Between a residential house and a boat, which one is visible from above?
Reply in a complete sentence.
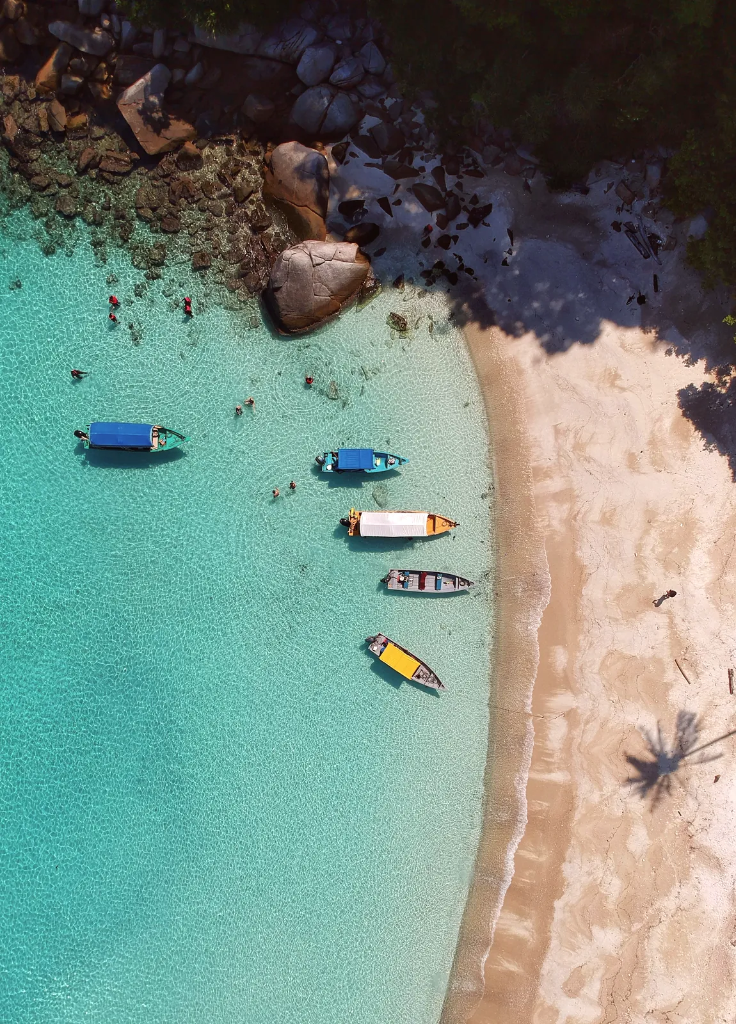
There is a boat in the scene.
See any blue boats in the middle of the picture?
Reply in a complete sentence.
Yes, in the middle of the picture there is a blue boat.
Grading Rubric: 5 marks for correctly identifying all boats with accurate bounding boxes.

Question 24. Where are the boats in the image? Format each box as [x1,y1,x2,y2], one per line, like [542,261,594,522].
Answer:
[313,448,409,474]
[339,511,456,538]
[378,570,476,594]
[367,634,446,690]
[75,423,192,455]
